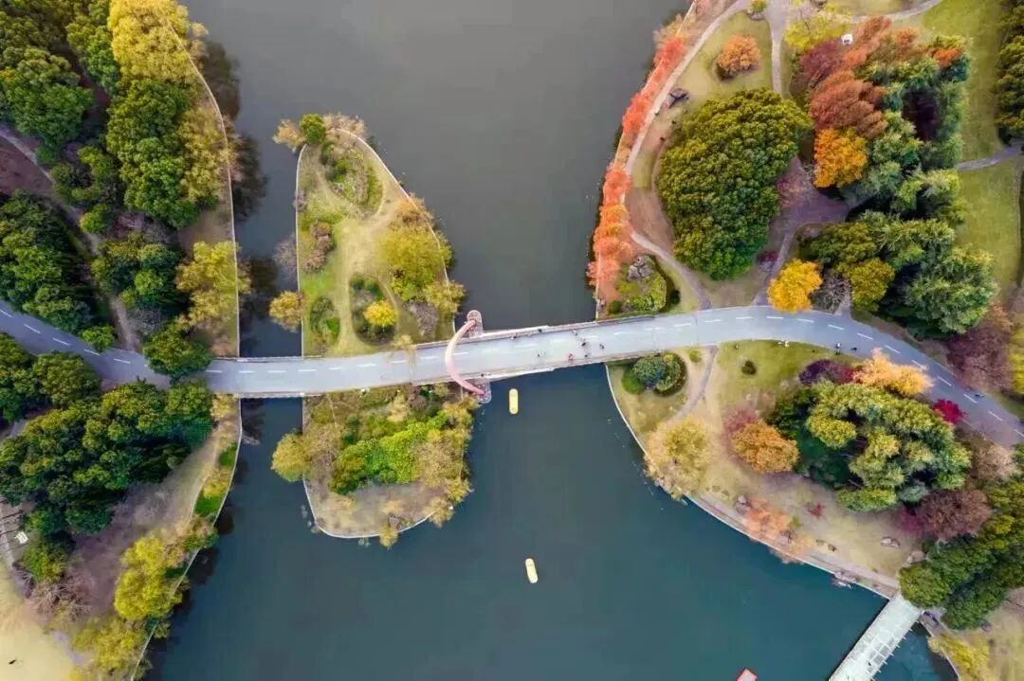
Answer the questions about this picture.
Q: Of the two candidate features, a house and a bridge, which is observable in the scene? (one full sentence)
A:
Of the two, only a bridge appears.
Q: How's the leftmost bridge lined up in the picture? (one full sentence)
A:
The leftmost bridge runs from left to right in the image.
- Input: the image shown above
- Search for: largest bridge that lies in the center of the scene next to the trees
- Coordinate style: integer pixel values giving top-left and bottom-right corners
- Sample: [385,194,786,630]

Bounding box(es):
[413,310,613,403]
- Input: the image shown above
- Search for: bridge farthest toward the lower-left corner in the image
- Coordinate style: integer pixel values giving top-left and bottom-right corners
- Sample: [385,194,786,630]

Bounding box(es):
[206,356,307,398]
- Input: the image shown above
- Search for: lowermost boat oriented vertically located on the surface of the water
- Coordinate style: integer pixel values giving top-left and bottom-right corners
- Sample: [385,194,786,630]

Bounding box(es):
[525,558,537,583]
